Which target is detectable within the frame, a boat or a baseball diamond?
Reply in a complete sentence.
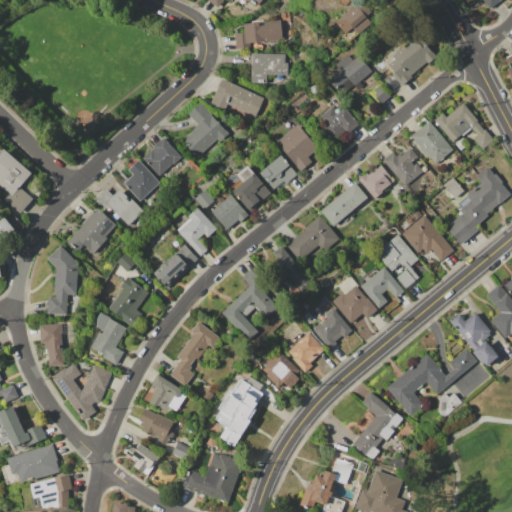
I can see a baseball diamond in this picture.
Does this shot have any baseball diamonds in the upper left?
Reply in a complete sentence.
Yes, a baseball diamond appears in the upper left.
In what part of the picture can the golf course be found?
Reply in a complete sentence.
Look in the bottom right portion of the view to spot the golf course.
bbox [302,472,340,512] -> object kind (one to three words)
house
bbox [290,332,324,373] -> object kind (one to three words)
house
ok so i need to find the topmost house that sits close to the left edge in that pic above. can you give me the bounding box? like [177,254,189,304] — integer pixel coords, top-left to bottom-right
[0,149,31,195]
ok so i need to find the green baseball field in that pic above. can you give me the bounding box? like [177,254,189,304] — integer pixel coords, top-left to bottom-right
[1,4,186,124]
